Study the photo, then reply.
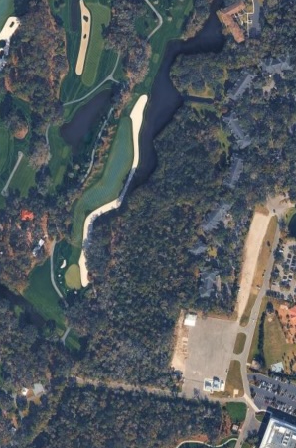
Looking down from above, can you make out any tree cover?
Yes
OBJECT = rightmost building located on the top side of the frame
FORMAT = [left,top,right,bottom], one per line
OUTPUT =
[260,58,293,77]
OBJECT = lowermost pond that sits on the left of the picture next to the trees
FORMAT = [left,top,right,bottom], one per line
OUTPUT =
[59,88,113,156]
